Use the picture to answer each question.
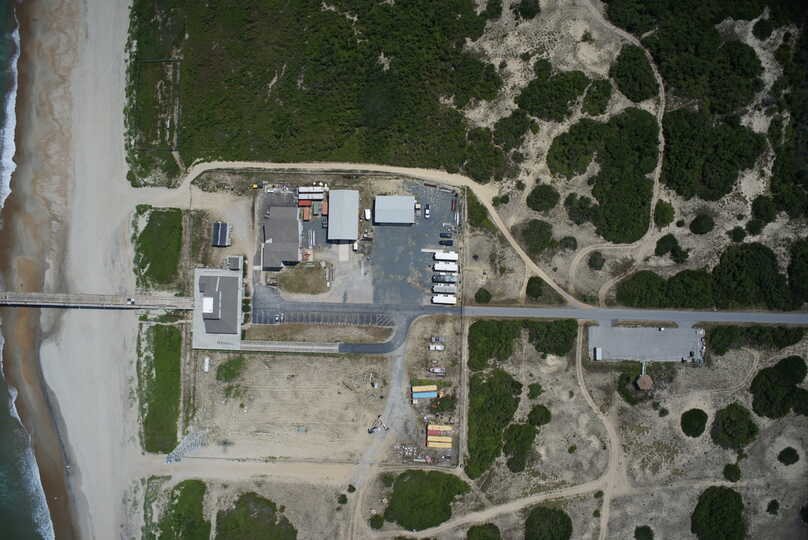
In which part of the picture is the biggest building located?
left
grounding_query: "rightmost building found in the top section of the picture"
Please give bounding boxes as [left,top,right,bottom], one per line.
[375,196,415,223]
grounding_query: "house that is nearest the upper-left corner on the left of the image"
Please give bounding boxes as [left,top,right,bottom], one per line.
[212,221,234,246]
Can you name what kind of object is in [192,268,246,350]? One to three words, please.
building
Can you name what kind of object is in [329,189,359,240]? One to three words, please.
building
